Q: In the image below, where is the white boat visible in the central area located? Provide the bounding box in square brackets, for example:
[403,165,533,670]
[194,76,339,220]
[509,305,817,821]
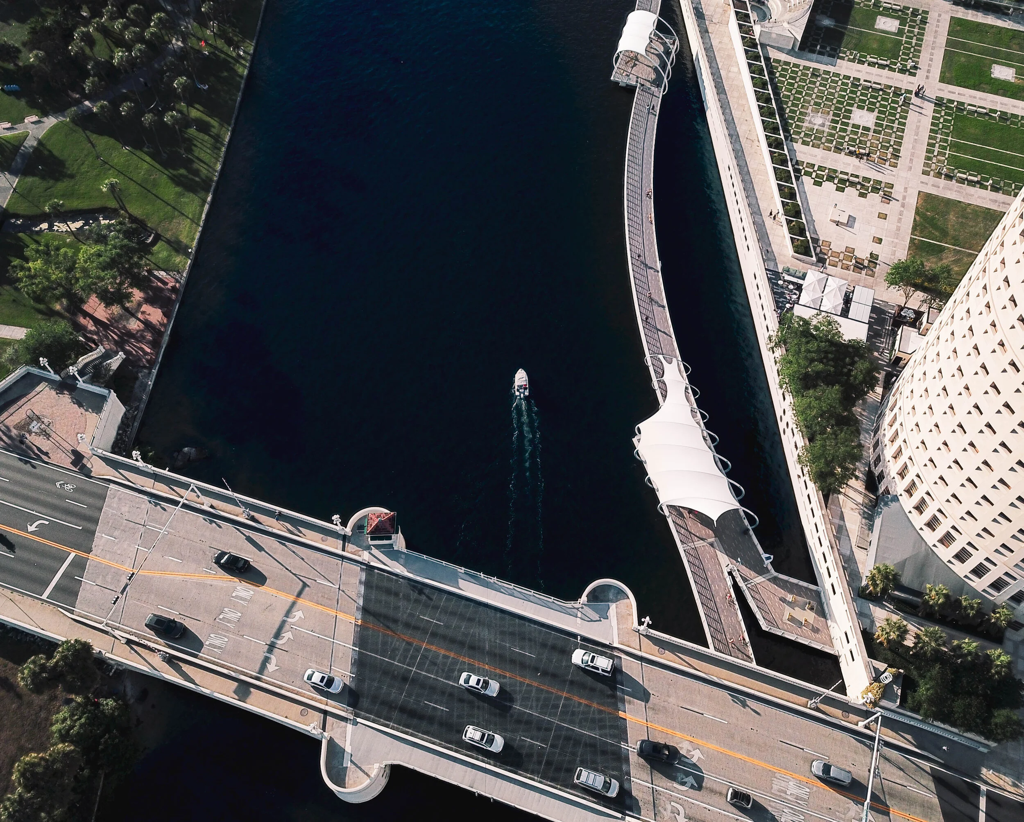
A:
[513,366,530,399]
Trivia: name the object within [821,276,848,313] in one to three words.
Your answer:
tent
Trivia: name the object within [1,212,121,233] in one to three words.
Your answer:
pond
